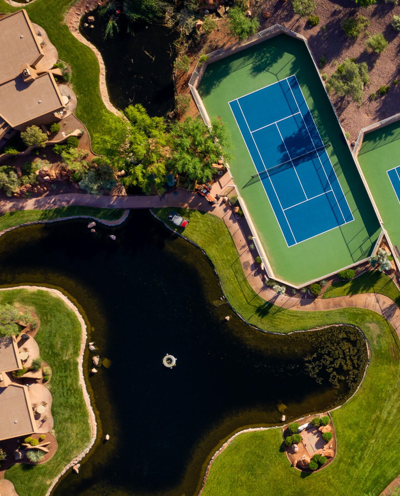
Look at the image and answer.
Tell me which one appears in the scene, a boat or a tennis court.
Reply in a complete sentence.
There is a tennis court in the scene.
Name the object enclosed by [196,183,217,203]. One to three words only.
work vehicle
